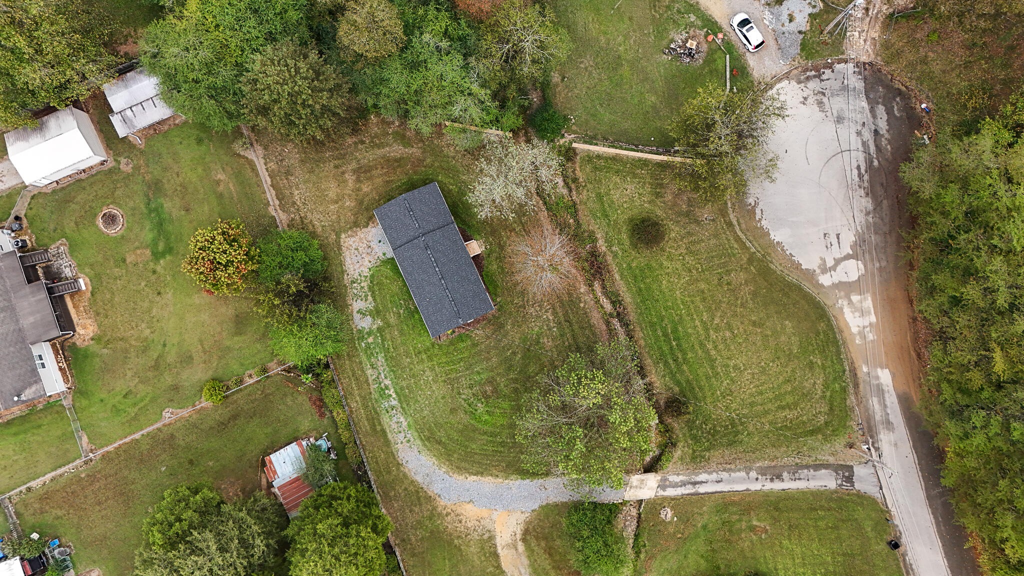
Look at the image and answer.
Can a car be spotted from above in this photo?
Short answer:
Yes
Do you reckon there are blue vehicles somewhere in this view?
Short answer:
No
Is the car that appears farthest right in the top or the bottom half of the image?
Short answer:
top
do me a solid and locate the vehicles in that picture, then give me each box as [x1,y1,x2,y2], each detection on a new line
[731,9,769,52]
[20,554,53,576]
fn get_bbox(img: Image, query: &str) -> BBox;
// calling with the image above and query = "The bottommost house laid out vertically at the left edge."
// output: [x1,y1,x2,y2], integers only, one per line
[0,219,86,412]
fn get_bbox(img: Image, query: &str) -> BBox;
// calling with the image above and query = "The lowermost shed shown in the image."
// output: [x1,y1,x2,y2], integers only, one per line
[260,440,317,520]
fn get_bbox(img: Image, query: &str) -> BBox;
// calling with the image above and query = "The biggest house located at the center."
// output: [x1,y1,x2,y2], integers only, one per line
[373,182,499,342]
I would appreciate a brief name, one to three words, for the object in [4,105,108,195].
building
